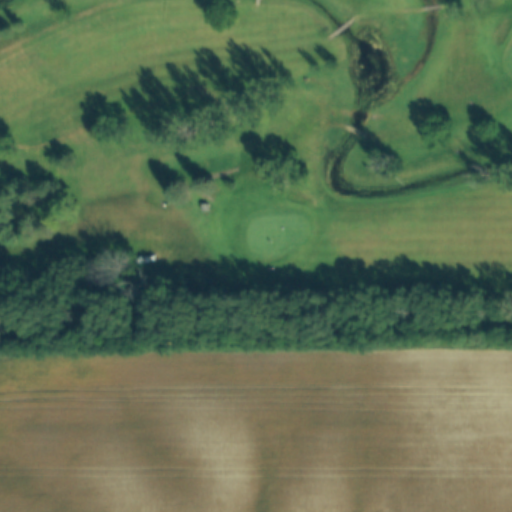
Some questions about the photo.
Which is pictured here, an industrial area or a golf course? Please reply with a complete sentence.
It's a golf course.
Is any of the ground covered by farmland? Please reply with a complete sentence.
Yes, some farmland is visible.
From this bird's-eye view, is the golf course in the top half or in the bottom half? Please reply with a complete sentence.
The top half of the photo is where the golf course is.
